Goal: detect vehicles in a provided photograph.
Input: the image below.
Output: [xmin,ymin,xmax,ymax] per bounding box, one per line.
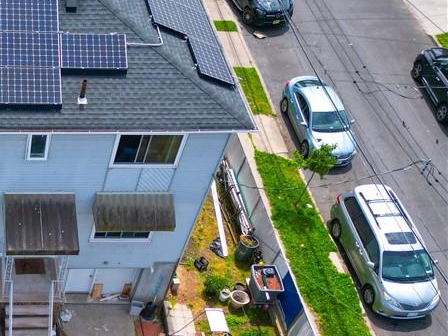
[282,83,361,169]
[232,0,290,25]
[409,51,448,123]
[335,196,446,330]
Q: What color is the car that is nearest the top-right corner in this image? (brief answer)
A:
black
